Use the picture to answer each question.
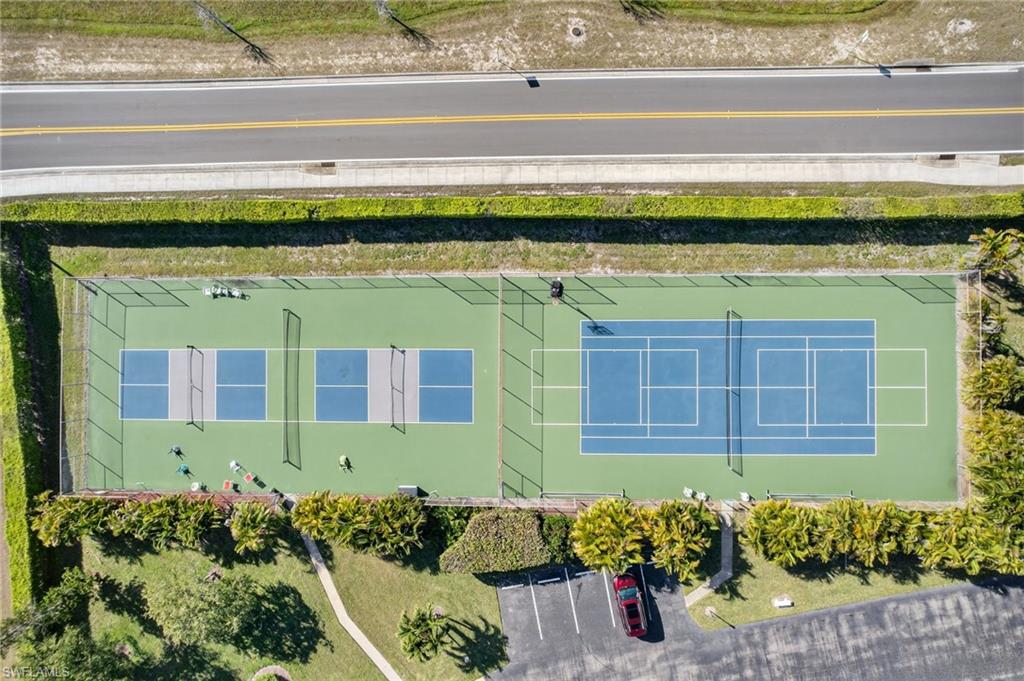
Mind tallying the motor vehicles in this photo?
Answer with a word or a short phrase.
1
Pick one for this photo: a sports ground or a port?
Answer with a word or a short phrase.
sports ground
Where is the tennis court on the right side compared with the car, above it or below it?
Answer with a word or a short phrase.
above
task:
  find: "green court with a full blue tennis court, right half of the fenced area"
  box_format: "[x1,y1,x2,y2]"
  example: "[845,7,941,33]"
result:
[501,275,959,502]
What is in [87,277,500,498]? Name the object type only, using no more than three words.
sports court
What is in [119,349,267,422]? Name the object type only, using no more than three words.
sports court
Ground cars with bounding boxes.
[615,571,647,638]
